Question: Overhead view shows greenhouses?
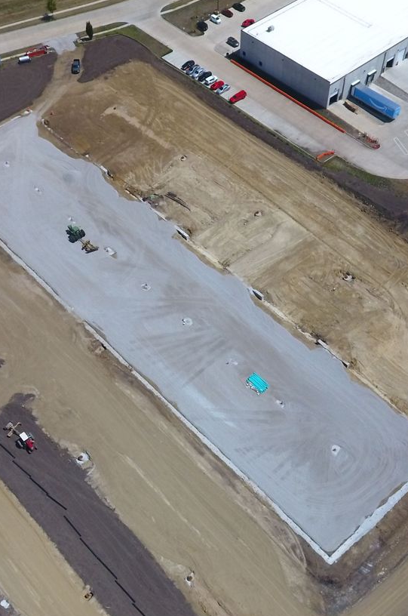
No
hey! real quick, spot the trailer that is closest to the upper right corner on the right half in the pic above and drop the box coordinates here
[353,77,399,113]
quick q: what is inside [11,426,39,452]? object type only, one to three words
work vehicle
